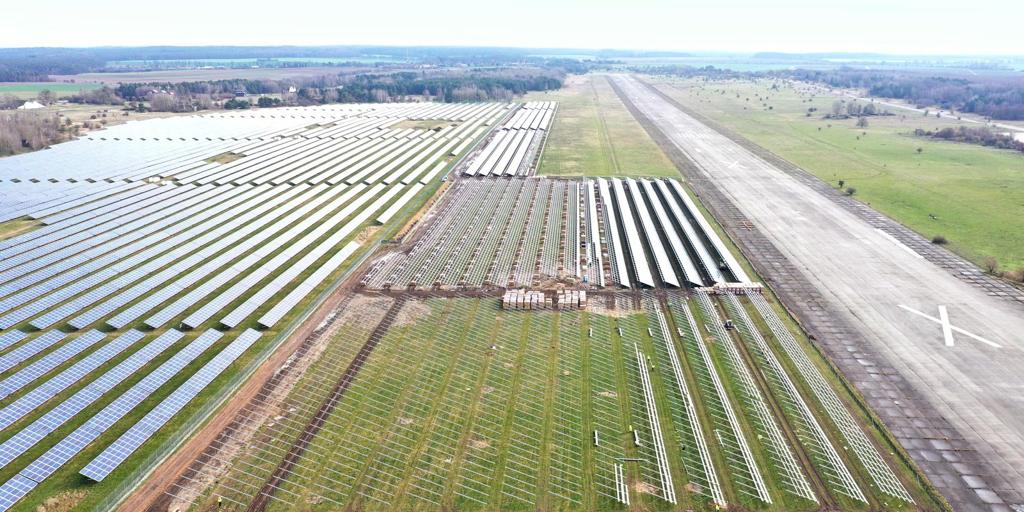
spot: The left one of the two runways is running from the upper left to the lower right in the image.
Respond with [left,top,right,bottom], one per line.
[612,77,739,143]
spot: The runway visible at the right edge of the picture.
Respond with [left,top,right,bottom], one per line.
[615,79,1024,497]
